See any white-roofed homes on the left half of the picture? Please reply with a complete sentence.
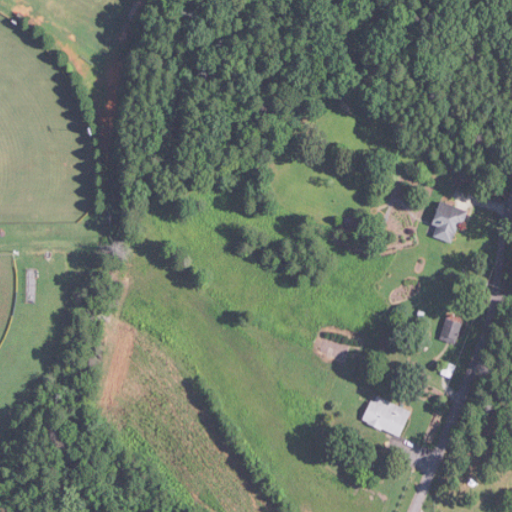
No, I see no white-roofed home on the left half of the picture.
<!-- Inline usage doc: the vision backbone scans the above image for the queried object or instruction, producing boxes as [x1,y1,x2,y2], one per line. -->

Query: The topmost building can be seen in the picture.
[431,202,466,242]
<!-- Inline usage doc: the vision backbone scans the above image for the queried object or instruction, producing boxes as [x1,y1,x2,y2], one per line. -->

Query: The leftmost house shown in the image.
[362,400,411,438]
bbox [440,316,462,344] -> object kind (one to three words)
house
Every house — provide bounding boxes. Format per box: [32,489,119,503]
[431,202,466,242]
[362,400,411,438]
[440,316,462,344]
